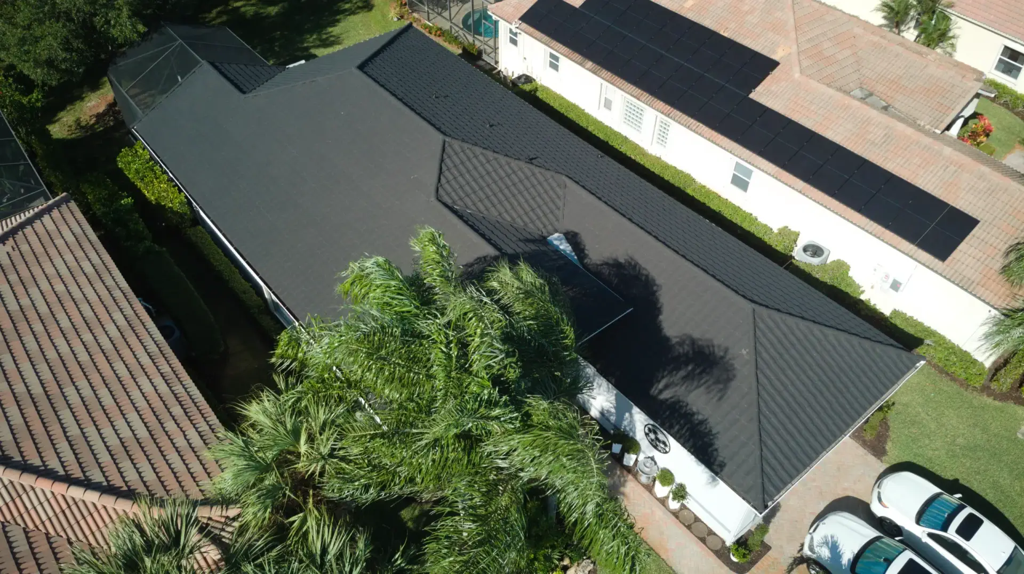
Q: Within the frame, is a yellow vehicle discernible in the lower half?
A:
No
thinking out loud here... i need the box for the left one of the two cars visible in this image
[796,505,941,574]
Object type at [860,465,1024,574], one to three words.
car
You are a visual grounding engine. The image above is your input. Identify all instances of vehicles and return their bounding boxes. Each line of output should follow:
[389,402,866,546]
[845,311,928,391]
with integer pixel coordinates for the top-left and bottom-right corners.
[796,505,941,574]
[860,465,1024,574]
